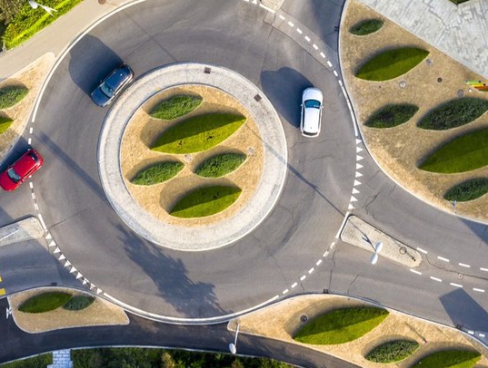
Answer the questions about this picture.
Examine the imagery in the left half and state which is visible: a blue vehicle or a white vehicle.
blue vehicle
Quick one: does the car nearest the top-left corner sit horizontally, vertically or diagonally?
diagonally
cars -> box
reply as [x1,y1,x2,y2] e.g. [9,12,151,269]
[299,88,325,137]
[91,62,137,107]
[0,147,46,191]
